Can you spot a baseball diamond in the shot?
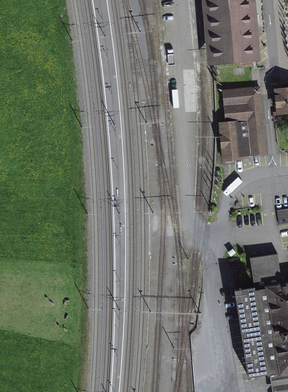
No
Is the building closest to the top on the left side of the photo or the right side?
right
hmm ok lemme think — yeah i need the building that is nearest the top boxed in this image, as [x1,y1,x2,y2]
[202,0,260,65]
